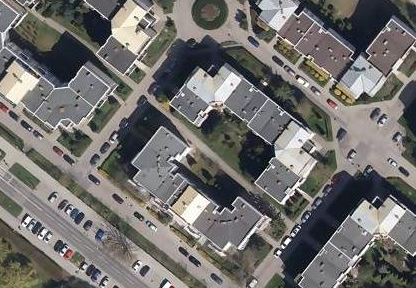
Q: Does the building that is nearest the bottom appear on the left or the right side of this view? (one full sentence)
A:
You can find the building that is nearest the bottom on the right side of the picture.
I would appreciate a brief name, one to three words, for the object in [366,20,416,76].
building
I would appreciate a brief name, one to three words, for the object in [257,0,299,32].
building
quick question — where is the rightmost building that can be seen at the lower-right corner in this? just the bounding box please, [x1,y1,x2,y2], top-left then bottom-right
[299,194,416,288]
